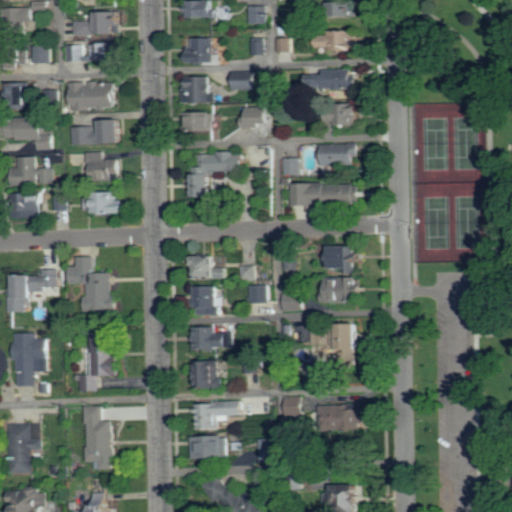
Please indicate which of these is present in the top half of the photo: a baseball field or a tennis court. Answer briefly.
tennis court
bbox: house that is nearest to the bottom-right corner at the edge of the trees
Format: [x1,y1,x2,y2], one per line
[322,484,360,512]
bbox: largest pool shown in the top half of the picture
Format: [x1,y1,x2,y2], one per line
[303,148,316,172]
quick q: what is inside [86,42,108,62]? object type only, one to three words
house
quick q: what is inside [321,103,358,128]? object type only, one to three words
house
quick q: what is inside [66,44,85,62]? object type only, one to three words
building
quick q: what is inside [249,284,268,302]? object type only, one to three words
building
